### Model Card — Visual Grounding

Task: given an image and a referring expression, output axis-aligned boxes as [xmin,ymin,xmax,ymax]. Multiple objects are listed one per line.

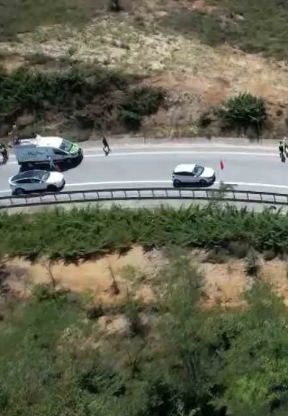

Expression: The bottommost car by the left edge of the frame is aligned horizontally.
[7,170,69,196]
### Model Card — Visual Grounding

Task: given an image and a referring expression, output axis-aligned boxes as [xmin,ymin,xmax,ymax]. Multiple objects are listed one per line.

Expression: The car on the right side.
[168,163,218,187]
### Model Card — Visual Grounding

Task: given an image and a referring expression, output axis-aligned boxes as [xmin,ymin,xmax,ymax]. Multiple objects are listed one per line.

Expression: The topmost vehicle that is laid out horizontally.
[10,136,86,170]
